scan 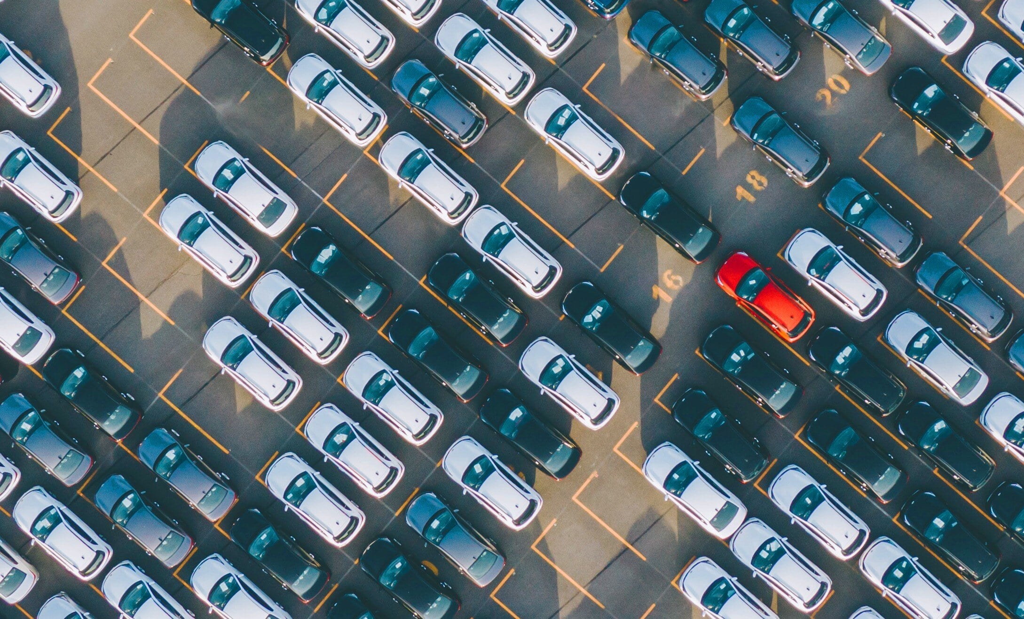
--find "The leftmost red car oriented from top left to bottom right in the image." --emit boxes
[714,251,816,344]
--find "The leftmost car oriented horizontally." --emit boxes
[39,592,100,619]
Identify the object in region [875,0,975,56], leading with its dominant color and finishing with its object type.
white car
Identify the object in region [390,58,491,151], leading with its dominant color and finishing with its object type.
blue car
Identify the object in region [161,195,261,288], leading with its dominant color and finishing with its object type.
white car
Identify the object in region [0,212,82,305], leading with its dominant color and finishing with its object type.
blue car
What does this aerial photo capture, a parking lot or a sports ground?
parking lot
